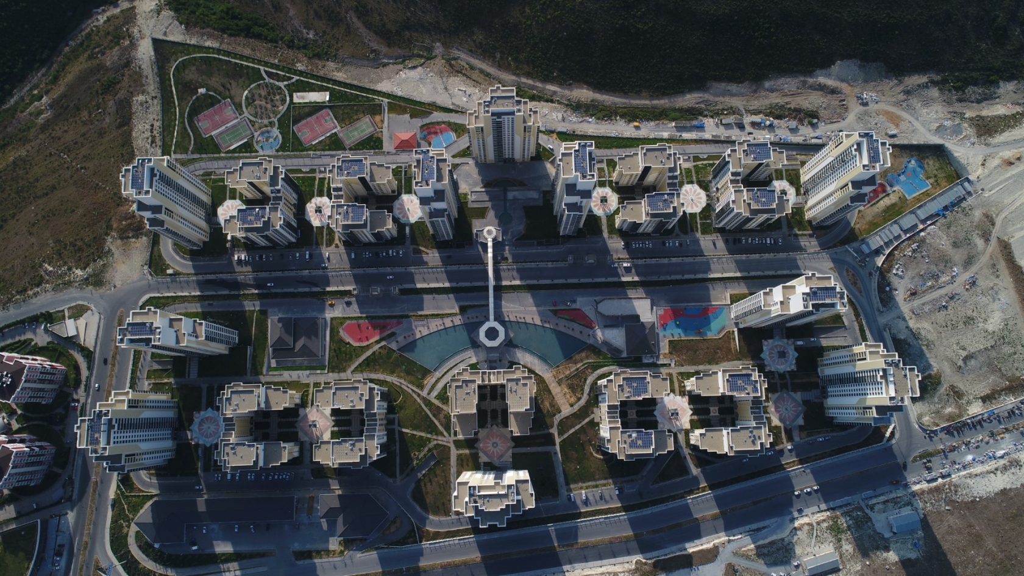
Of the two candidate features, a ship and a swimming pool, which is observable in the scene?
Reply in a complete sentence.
This aerial view contains a swimming pool.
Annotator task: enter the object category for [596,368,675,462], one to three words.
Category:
building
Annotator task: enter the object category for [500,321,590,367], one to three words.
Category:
swimming pool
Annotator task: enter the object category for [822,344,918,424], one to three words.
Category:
building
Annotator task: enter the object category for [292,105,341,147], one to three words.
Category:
basketball court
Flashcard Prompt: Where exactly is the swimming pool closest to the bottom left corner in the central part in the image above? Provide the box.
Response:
[396,320,486,370]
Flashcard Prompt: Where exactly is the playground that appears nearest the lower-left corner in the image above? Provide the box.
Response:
[339,321,403,342]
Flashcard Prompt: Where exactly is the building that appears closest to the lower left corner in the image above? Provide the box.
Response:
[0,428,53,482]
